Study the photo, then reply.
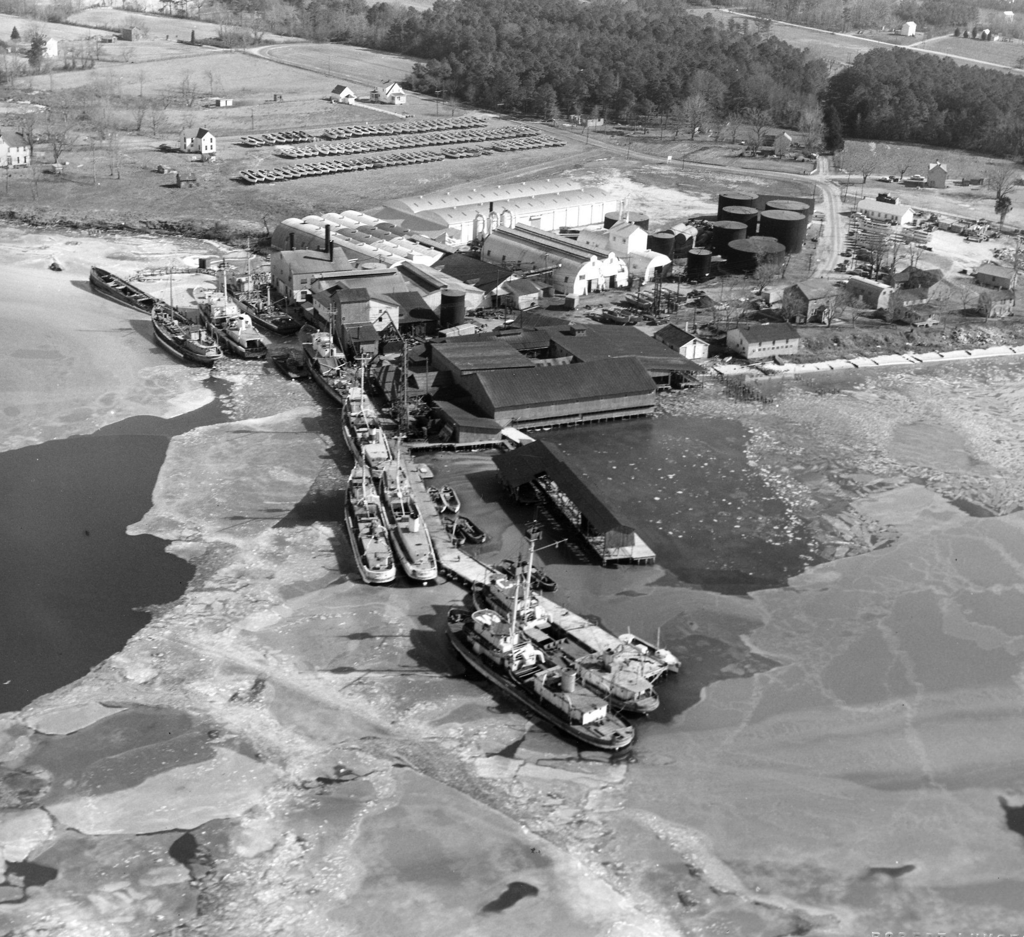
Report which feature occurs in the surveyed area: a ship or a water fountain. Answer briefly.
ship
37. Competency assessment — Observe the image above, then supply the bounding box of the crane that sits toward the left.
[366,312,440,435]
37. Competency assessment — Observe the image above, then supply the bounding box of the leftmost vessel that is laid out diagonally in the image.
[90,266,170,322]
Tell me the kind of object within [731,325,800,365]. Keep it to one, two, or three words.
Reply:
house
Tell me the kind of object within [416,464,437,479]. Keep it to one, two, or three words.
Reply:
boat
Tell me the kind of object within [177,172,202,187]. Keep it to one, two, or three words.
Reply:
shed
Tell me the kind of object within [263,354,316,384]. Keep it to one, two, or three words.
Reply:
ship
